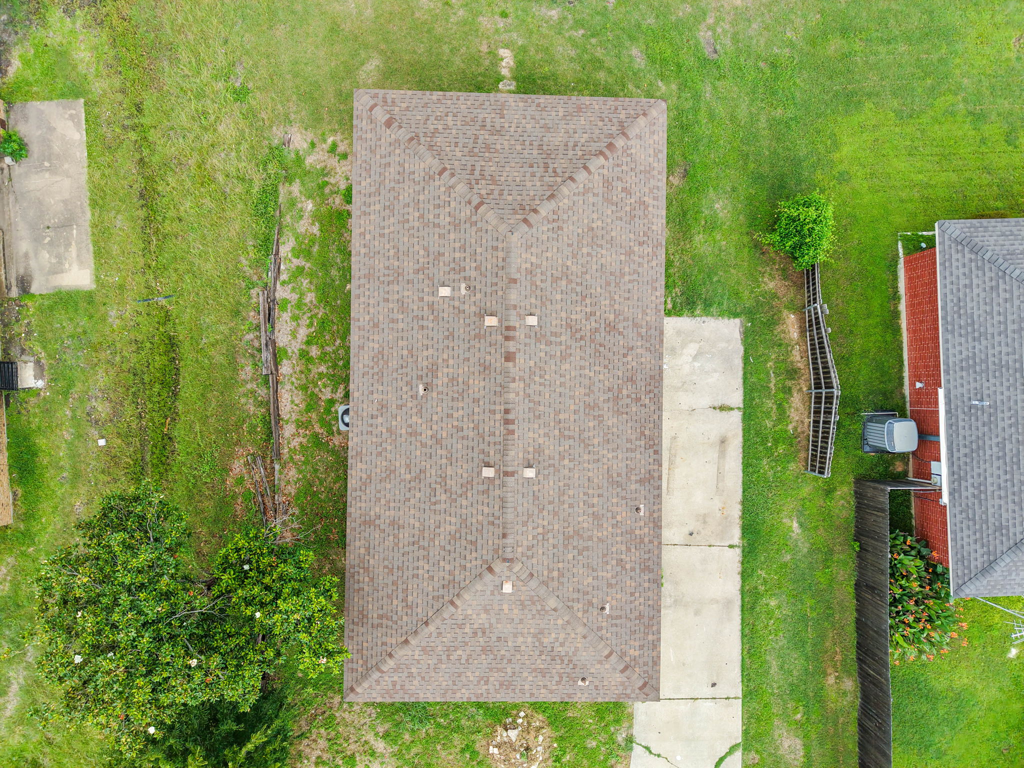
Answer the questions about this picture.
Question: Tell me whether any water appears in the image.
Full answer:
No, there is no water in the image.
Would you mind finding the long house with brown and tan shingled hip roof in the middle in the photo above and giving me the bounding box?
[342,88,668,703]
